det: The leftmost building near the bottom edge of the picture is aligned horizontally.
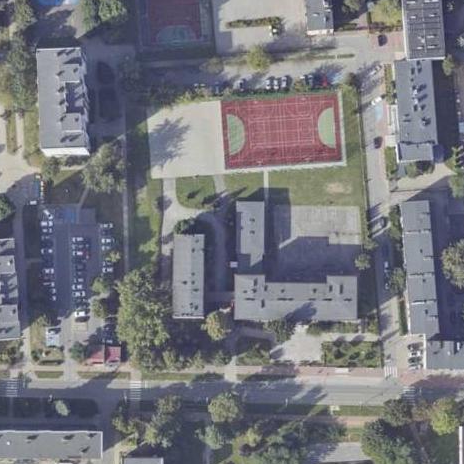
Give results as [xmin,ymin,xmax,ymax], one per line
[0,431,107,460]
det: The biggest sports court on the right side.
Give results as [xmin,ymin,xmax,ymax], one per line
[221,92,343,170]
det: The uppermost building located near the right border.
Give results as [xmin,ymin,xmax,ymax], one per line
[401,0,444,64]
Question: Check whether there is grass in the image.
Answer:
Yes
